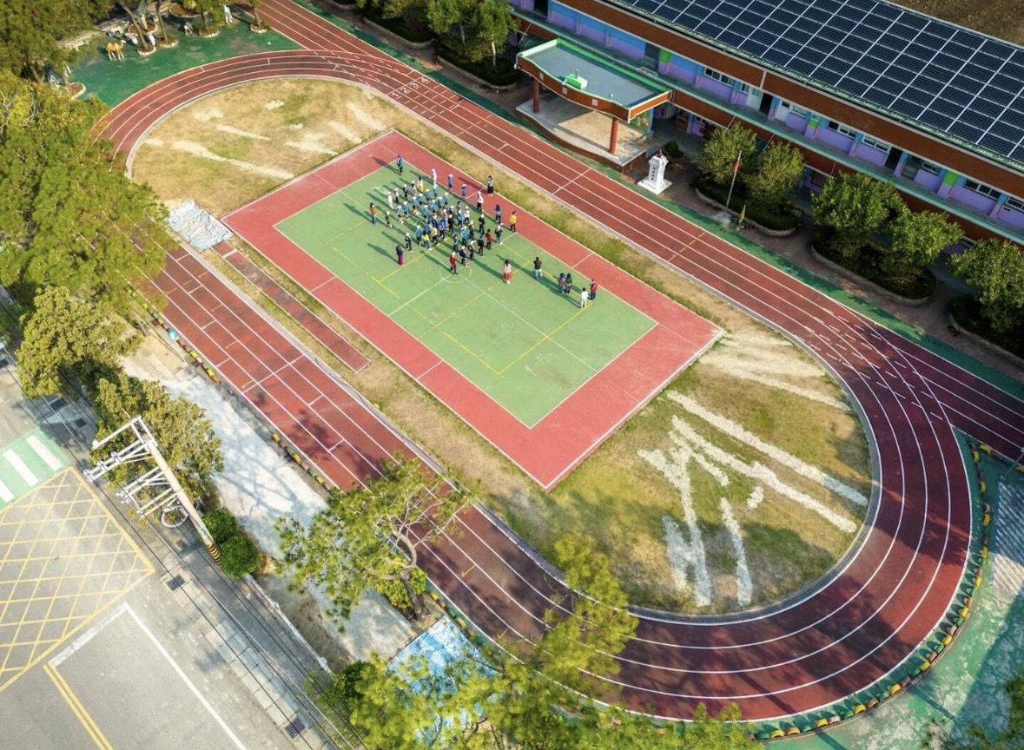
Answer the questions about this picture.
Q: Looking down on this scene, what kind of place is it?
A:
sports ground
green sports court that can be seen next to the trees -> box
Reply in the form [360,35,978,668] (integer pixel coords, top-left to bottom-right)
[221,128,726,489]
